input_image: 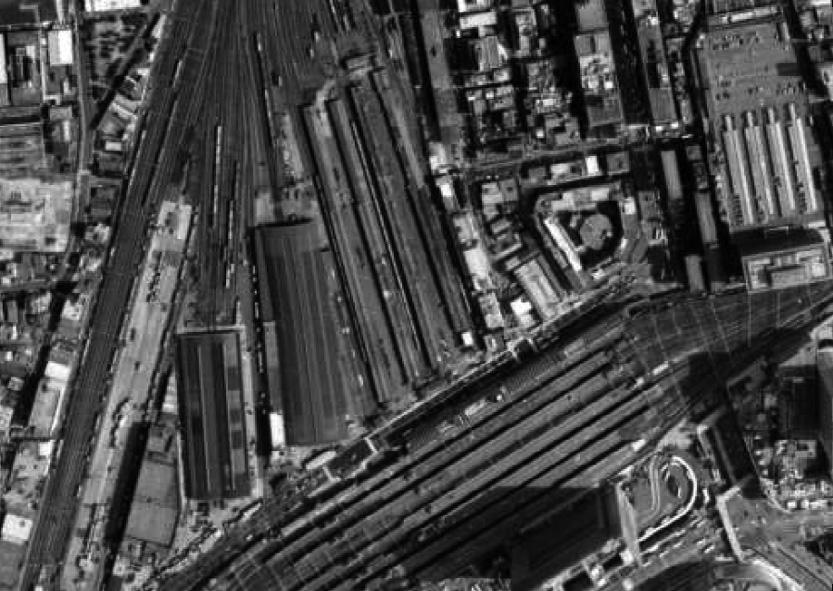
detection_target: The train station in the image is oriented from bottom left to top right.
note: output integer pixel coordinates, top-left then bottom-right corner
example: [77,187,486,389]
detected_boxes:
[226,319,656,591]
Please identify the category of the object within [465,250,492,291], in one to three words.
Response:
building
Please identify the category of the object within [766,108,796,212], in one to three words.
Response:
shed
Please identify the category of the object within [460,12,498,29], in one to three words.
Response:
building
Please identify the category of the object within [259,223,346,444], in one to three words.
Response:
shed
